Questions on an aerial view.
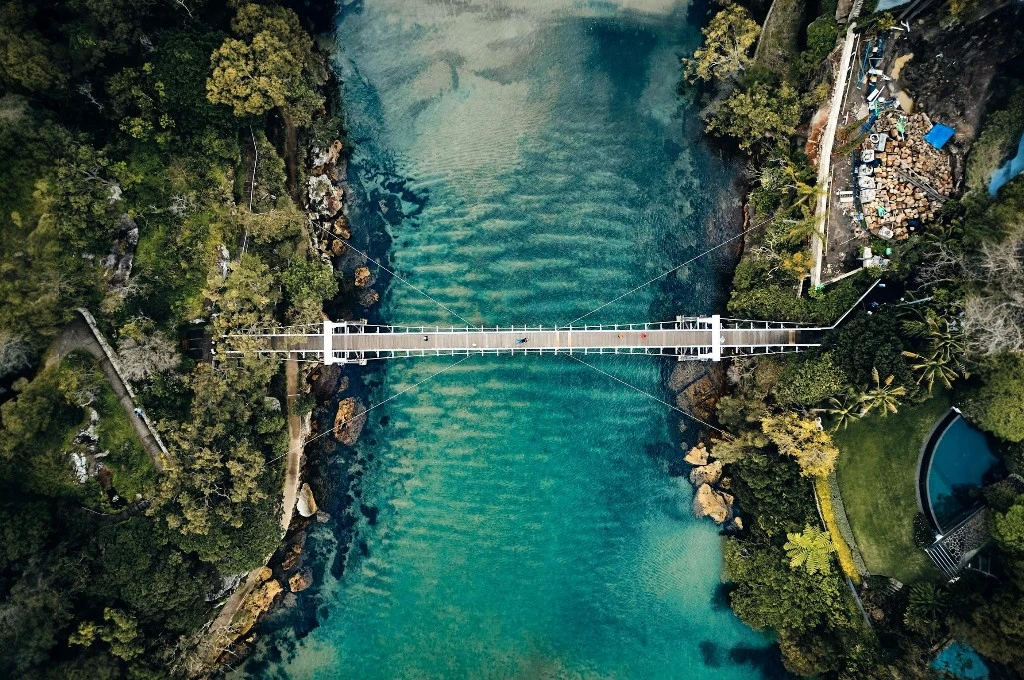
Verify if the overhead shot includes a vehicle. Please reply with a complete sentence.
No, there is no vehicle in the image.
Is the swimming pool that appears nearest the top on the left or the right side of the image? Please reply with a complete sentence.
The swimming pool that appears nearest the top is on the right side of the image.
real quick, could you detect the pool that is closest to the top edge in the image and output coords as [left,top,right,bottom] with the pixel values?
[911,404,1013,539]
